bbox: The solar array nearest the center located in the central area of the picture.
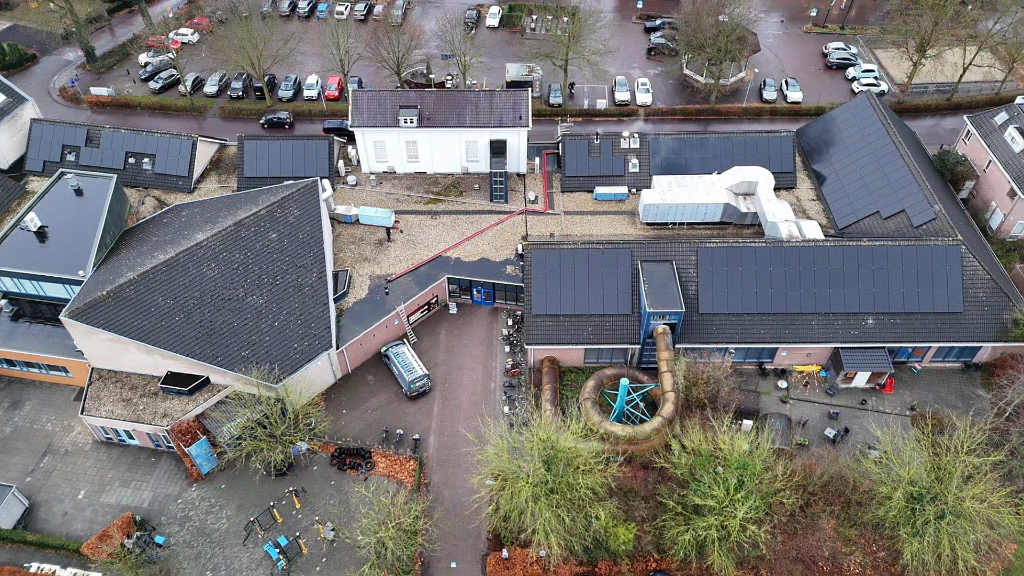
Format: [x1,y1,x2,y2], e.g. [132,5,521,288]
[532,247,633,314]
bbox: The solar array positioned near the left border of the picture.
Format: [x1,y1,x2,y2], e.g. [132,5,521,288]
[15,123,192,175]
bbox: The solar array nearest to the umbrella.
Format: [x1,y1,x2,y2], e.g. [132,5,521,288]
[698,246,969,313]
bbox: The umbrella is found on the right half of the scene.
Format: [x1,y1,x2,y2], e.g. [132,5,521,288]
[789,365,823,395]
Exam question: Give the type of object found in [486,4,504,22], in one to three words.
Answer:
car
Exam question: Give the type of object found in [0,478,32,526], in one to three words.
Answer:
shed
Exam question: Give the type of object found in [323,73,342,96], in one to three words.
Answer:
car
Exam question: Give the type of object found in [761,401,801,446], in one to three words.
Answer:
shed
